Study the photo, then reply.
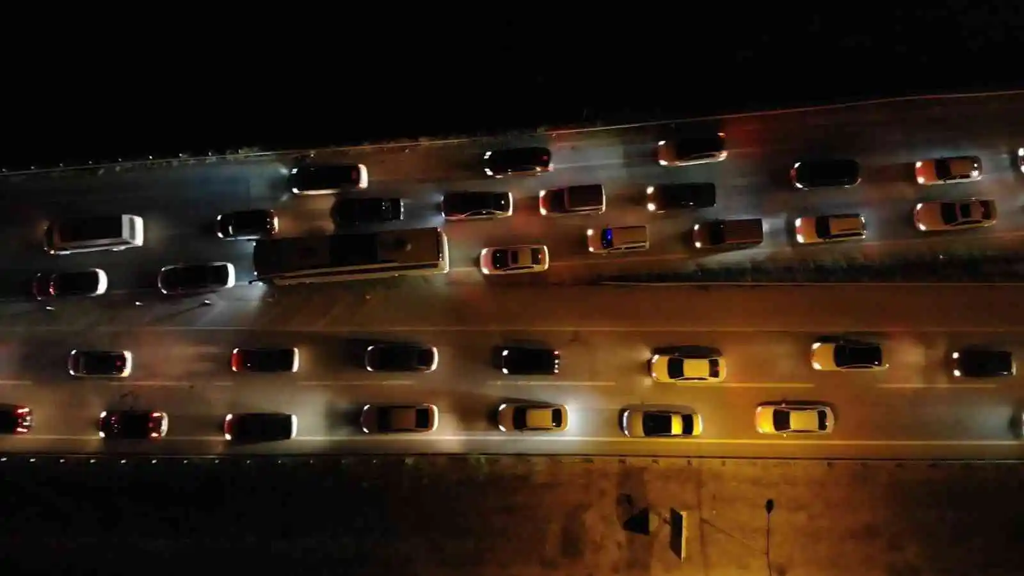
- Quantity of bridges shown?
zero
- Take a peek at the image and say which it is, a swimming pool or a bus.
bus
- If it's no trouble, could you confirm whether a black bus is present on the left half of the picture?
Yes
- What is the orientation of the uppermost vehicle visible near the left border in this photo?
from side to side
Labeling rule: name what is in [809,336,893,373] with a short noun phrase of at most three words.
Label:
car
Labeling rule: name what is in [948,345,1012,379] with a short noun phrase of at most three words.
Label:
car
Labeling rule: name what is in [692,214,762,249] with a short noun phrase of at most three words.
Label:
van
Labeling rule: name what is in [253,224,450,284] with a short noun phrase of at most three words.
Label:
bus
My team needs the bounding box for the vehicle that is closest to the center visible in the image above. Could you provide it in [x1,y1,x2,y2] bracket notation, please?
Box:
[480,241,551,275]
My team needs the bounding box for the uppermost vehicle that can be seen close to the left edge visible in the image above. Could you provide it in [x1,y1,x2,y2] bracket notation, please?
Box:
[47,214,145,254]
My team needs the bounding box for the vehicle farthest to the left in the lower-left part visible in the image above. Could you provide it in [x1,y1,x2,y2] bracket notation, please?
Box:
[0,405,36,434]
